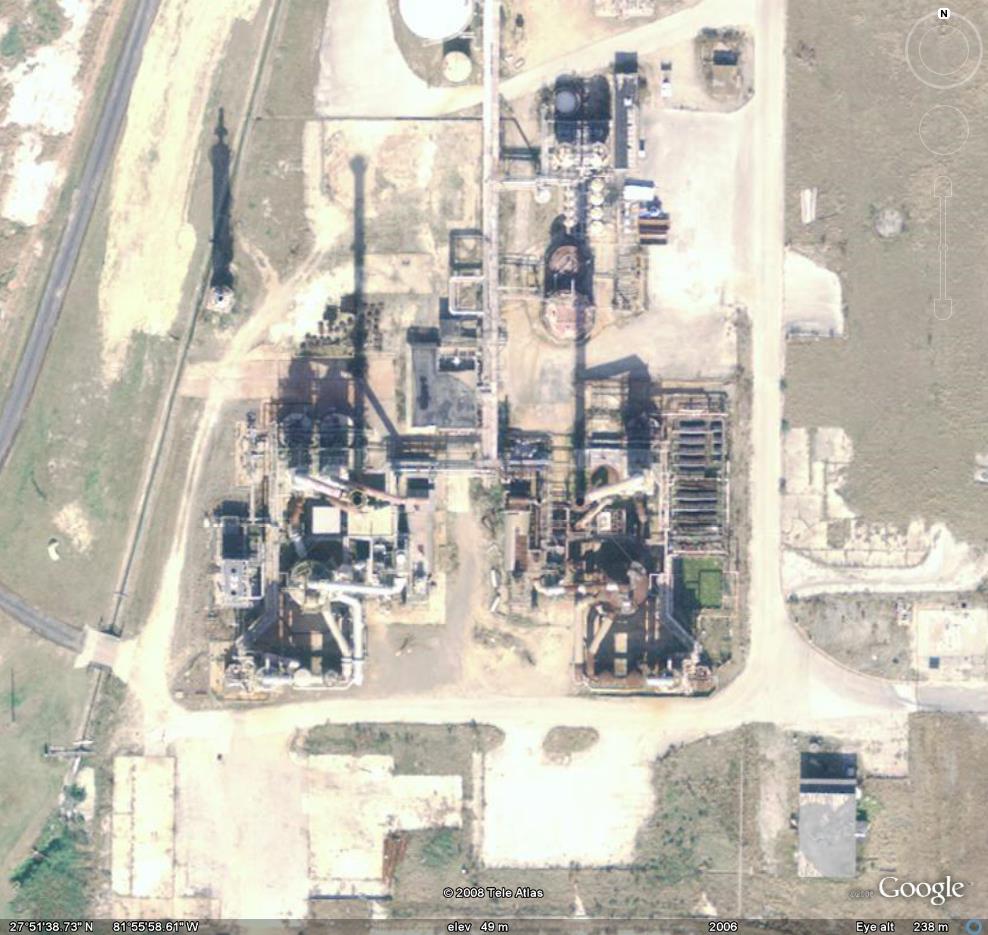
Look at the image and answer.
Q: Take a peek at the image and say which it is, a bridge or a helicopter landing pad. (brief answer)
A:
bridge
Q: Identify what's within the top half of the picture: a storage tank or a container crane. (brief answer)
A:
storage tank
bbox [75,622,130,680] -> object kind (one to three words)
bridge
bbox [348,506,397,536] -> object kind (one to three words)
building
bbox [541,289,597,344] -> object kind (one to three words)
storage tank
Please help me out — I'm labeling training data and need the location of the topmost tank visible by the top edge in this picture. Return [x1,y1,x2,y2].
[396,0,476,41]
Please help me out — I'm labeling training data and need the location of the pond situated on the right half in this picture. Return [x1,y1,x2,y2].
[674,556,724,608]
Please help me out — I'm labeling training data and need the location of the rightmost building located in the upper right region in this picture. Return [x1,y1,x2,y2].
[713,65,737,78]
